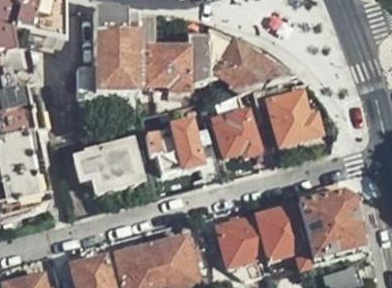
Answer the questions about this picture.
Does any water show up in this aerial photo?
No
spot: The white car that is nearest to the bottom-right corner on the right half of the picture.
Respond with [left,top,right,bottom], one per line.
[378,225,390,249]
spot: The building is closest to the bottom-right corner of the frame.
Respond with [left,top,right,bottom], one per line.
[324,268,362,288]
